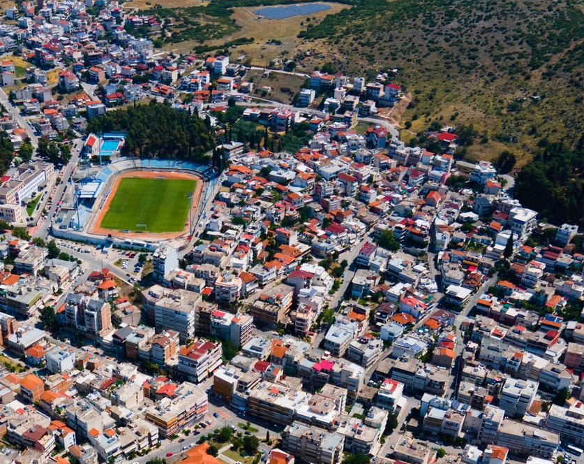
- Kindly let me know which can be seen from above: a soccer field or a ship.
soccer field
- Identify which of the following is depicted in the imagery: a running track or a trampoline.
running track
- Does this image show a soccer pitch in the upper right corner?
No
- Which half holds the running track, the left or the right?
left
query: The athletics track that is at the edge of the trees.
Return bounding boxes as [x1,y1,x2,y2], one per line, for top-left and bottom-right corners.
[94,172,201,238]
